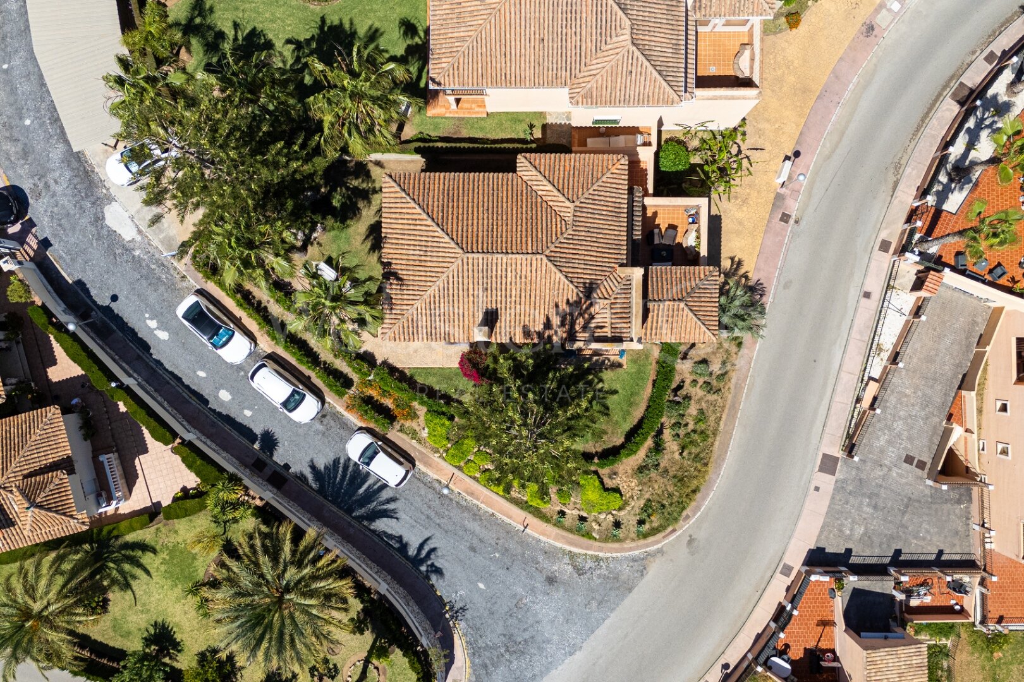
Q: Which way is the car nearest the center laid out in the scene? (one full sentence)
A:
From this overhead view, the car nearest the center appears to run diagonally.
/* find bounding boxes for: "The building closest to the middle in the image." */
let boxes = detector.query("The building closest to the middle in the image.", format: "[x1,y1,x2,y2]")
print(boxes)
[379,150,722,355]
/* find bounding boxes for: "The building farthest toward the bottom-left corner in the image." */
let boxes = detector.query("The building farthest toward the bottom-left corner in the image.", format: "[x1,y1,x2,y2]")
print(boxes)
[0,404,137,550]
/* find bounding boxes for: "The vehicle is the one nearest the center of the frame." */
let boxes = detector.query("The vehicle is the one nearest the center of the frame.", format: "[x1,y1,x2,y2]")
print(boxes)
[344,427,418,491]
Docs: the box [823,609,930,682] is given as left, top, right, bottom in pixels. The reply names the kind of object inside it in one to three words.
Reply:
building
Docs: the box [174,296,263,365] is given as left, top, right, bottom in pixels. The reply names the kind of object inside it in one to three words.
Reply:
car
